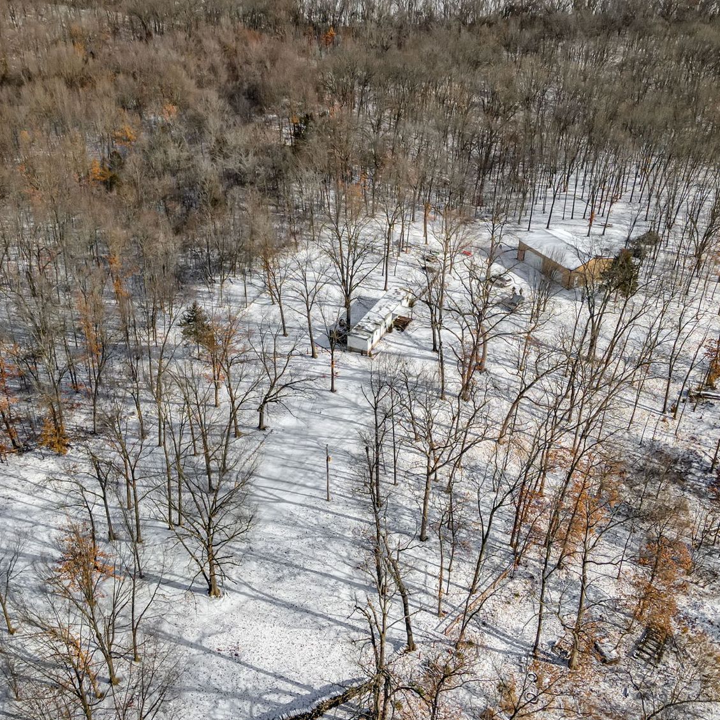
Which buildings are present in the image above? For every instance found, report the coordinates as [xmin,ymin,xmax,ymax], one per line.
[346,283,409,350]
[518,224,616,289]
